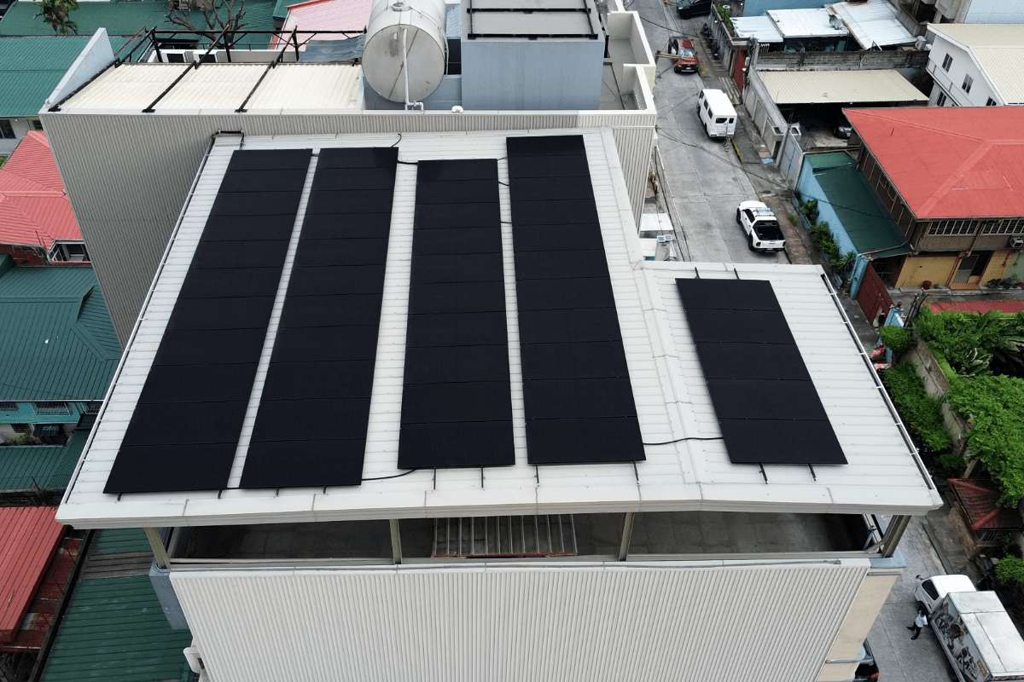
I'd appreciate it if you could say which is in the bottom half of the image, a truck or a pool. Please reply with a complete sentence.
The one visible in the bottom half of the image is a truck.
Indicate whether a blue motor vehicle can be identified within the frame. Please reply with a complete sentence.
No, the picture doesn't show any blue motor vehicle.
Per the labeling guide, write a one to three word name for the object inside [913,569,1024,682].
truck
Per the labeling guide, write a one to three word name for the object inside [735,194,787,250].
truck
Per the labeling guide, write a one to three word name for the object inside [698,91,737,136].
van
